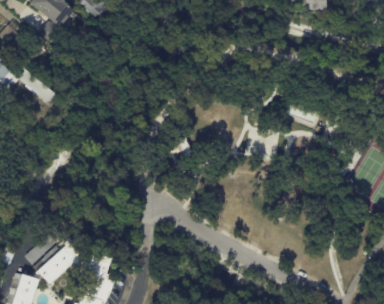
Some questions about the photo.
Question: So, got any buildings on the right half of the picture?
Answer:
Yes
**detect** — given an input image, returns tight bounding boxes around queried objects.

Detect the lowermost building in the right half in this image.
[287,103,318,128]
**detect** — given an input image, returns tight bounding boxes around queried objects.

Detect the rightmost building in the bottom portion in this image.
[70,257,115,304]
